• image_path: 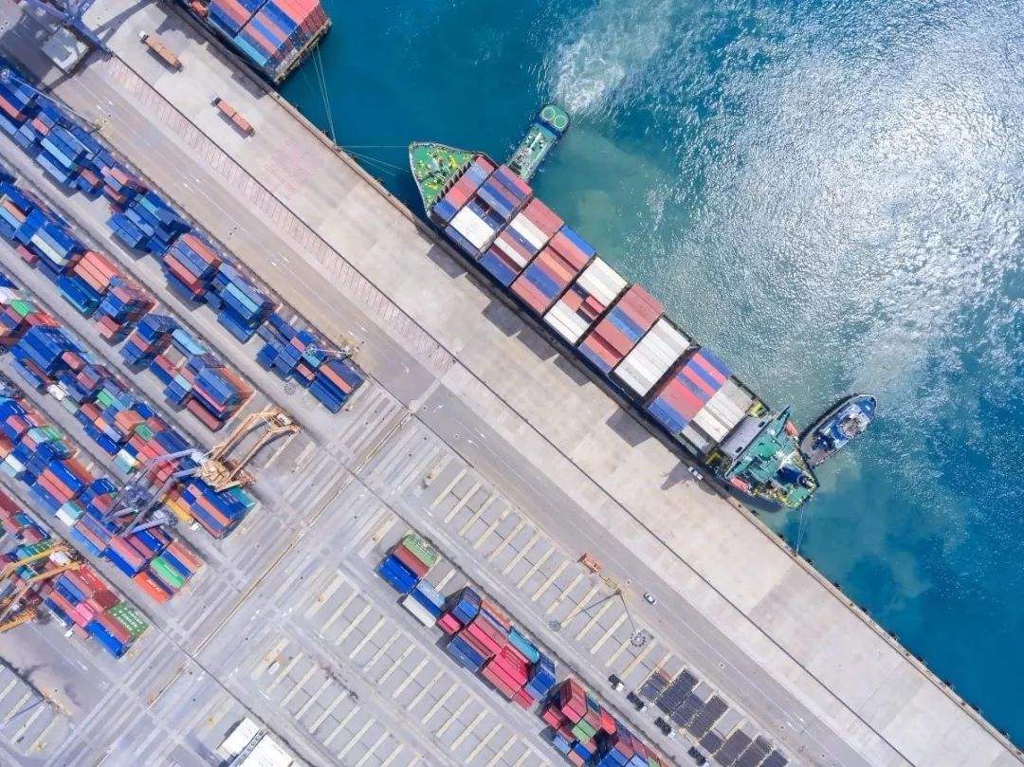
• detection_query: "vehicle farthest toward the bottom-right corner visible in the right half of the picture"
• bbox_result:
[688,747,712,767]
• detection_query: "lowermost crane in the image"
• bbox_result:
[0,543,78,637]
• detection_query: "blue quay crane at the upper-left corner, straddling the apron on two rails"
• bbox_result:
[40,0,120,59]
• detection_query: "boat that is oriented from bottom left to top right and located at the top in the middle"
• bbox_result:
[500,99,566,185]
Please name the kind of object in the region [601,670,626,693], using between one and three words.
truck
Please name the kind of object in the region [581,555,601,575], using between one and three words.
vehicle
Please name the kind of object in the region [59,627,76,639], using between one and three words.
vehicle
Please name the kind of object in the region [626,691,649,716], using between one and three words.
truck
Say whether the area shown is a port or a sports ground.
port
